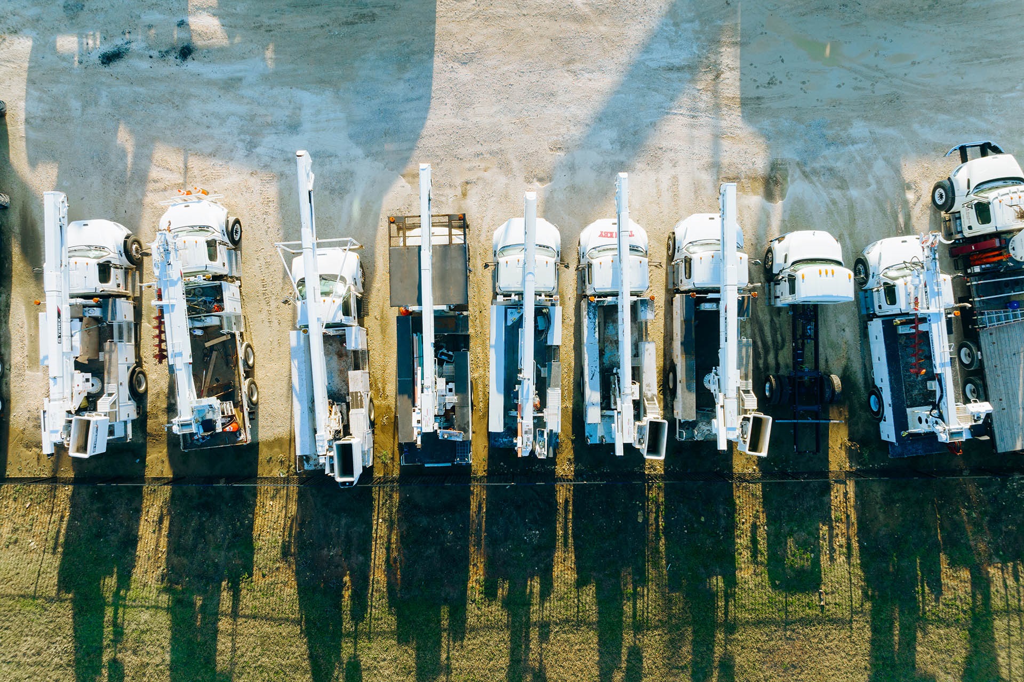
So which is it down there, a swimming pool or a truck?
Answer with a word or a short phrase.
truck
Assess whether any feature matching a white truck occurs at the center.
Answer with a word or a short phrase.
Yes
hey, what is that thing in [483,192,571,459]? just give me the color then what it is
white truck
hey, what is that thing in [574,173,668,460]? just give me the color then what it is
white truck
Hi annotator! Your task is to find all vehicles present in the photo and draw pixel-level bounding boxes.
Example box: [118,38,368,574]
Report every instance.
[935,137,1024,454]
[137,193,262,452]
[574,173,668,460]
[851,227,991,462]
[760,226,861,452]
[33,193,150,458]
[388,164,477,466]
[274,151,377,488]
[483,192,571,459]
[665,183,773,457]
